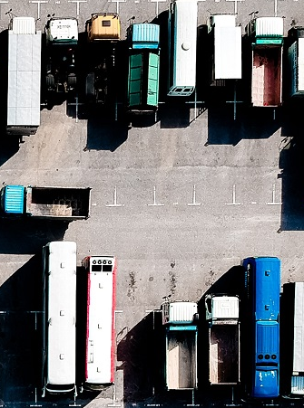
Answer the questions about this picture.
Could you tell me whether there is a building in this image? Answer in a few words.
No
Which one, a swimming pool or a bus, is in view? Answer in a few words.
bus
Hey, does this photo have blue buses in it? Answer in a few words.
Yes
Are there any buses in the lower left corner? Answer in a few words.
Yes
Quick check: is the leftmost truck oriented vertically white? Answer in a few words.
Yes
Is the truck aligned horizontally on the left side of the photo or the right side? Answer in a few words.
left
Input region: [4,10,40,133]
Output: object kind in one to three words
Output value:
truck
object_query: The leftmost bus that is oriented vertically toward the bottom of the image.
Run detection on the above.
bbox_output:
[41,240,77,395]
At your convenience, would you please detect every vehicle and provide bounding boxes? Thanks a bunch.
[41,240,77,395]
[159,293,200,390]
[79,256,116,394]
[283,20,304,99]
[202,7,241,86]
[164,0,198,106]
[281,282,304,397]
[0,182,90,221]
[4,10,40,133]
[43,12,81,92]
[240,256,281,404]
[243,10,286,110]
[203,289,240,385]
[122,16,163,119]
[81,6,122,103]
